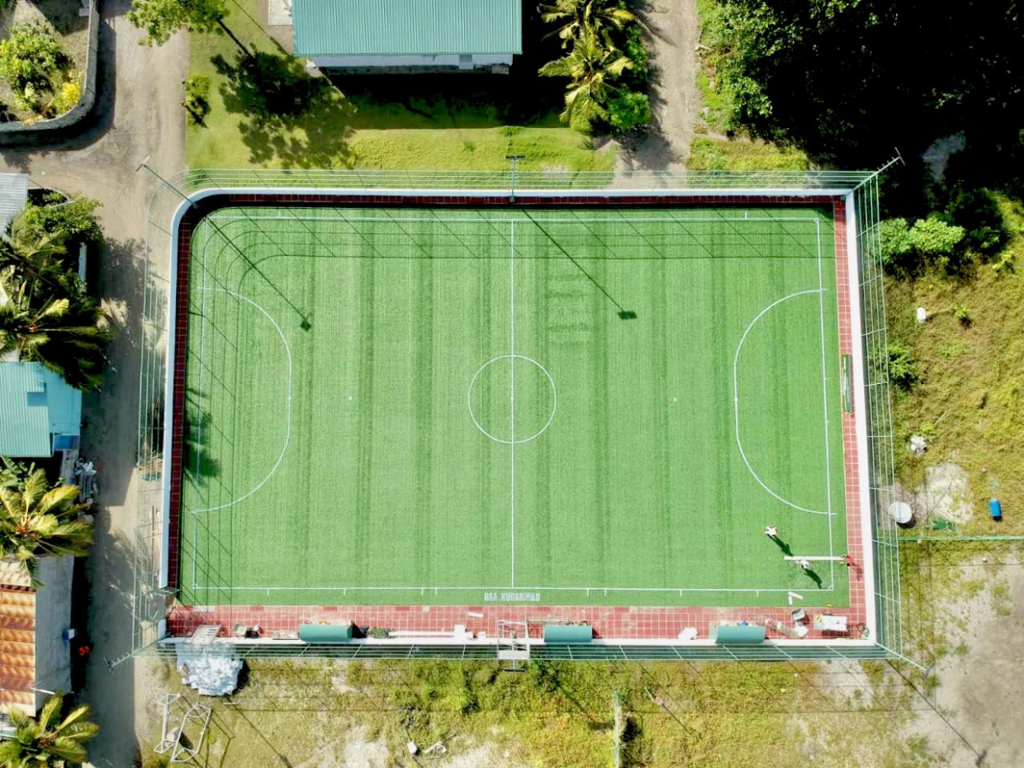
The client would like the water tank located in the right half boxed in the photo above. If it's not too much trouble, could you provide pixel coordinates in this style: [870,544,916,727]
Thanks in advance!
[884,498,913,523]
